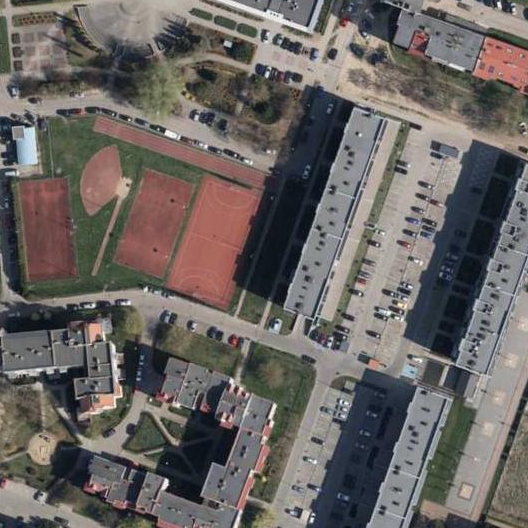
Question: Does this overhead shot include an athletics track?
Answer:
Yes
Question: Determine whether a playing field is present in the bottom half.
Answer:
No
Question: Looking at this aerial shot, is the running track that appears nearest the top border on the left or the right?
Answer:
left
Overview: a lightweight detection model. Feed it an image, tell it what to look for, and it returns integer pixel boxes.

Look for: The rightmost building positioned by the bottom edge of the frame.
[365,387,457,528]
